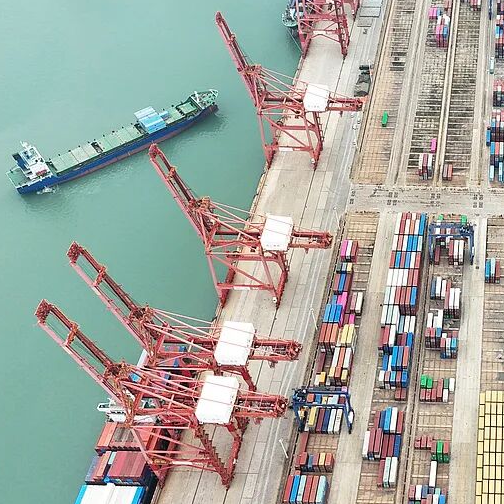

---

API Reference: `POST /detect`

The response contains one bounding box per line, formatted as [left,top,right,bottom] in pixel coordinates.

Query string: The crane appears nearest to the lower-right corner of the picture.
[289,386,353,432]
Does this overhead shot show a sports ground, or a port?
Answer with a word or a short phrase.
port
